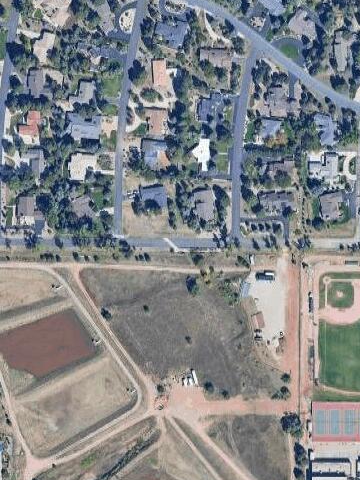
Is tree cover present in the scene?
Yes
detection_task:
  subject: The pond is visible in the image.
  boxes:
[0,309,93,378]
